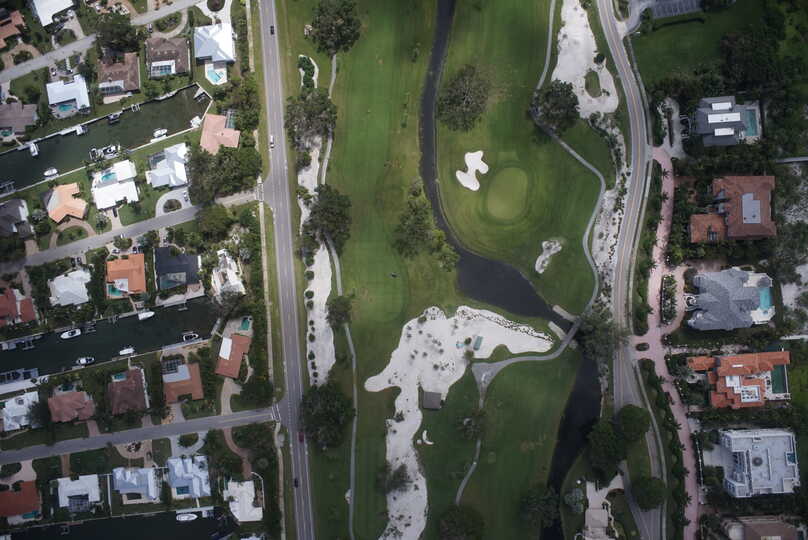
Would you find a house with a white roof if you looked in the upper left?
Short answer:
Yes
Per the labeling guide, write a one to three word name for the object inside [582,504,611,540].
building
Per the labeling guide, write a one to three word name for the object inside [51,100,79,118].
swimming pool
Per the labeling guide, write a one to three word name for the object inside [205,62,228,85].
swimming pool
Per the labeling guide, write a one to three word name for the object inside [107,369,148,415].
house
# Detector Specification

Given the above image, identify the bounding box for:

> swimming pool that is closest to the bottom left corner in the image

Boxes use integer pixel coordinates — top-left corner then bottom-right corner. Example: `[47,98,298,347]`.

[8,508,41,525]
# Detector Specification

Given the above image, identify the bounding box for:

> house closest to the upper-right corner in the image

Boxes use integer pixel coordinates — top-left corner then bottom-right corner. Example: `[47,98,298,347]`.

[692,96,746,148]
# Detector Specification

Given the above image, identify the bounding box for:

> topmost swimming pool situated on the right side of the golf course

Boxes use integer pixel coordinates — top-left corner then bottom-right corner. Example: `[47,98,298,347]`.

[740,99,762,147]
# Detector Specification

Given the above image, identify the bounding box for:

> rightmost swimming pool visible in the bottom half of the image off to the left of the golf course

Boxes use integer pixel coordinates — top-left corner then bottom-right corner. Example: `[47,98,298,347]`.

[223,315,252,336]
